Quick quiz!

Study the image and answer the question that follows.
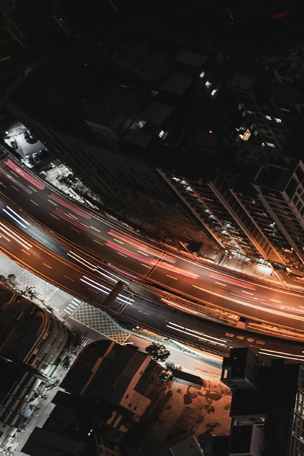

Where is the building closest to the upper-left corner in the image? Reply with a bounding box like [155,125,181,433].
[2,40,225,218]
